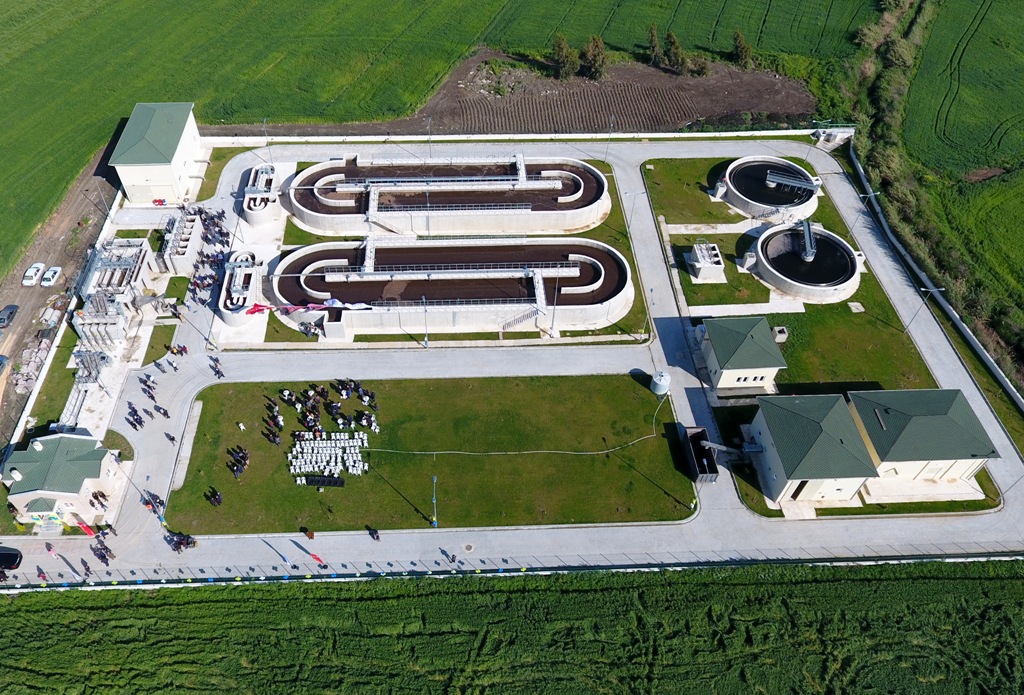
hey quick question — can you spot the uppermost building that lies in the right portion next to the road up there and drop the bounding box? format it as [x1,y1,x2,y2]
[702,317,787,386]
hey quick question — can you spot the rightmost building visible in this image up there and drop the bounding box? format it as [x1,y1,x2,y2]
[847,388,1002,481]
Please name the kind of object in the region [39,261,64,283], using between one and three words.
car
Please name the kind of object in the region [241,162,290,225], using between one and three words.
storage tank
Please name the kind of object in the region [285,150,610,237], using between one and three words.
storage tank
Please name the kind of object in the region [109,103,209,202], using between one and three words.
building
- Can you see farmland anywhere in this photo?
Yes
